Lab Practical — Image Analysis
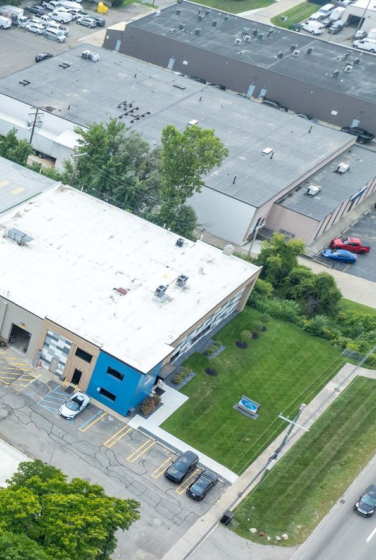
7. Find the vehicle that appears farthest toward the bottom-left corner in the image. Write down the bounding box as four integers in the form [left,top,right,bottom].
[57,391,91,420]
